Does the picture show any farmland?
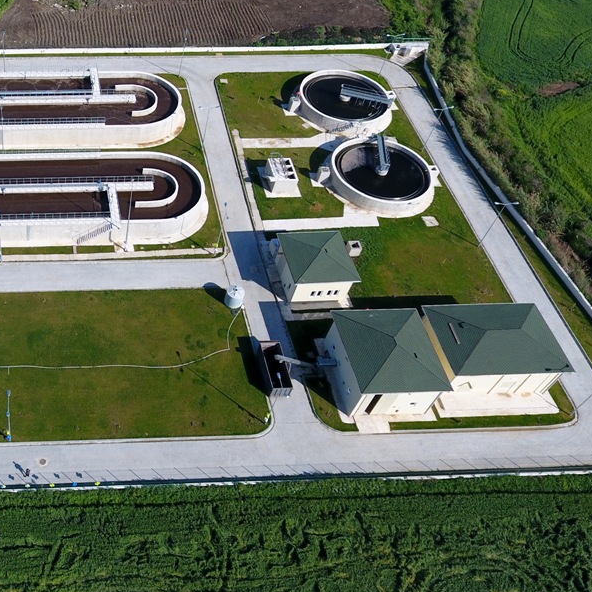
Yes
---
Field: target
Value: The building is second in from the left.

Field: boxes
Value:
[325,308,453,415]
